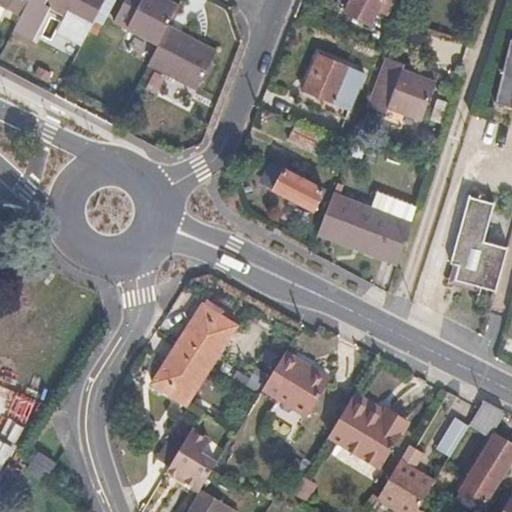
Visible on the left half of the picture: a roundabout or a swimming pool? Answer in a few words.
roundabout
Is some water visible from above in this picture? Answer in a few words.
No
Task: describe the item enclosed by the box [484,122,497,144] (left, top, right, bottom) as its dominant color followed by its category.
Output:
white vehicle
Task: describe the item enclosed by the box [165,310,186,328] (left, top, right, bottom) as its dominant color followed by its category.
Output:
white car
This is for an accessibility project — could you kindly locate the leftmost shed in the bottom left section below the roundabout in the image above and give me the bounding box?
[28,452,56,474]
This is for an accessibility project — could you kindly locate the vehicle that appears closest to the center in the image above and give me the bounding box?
[220,254,250,274]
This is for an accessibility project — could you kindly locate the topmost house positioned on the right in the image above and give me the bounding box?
[344,0,394,30]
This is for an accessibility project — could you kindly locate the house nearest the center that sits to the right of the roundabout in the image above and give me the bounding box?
[272,168,328,214]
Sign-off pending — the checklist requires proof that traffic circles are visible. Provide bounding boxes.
[36,140,184,284]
